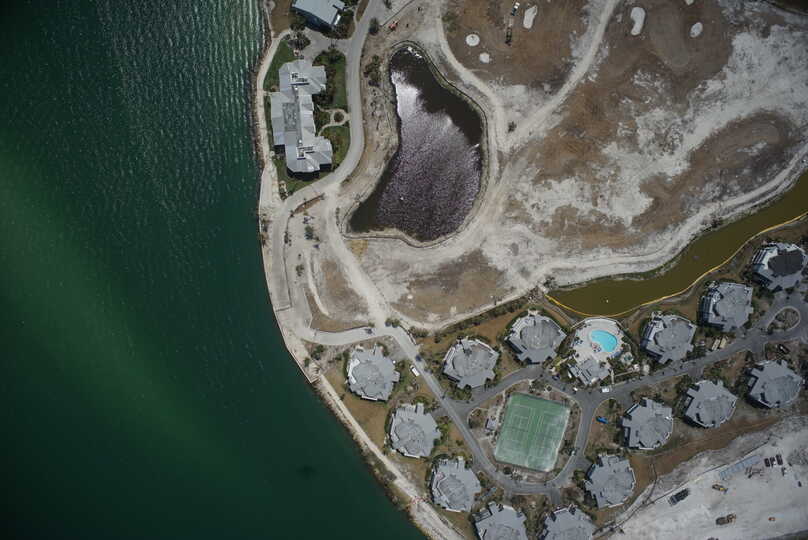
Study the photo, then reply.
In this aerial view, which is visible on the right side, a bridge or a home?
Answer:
home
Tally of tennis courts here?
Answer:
1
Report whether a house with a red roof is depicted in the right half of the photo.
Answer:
No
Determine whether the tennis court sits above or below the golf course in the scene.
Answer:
below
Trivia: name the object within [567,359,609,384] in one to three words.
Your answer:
building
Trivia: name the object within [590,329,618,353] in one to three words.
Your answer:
swimming pool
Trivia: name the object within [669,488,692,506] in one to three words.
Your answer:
vehicle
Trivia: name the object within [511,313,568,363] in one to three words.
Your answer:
house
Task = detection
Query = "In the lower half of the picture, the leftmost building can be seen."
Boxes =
[347,351,400,403]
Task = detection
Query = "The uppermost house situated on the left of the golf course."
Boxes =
[296,0,344,28]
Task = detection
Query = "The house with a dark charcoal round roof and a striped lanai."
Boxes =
[746,242,808,291]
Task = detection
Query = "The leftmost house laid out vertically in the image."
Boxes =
[271,58,333,173]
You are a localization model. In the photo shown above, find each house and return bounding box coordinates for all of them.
[443,339,499,389]
[588,453,638,507]
[347,351,400,403]
[746,242,808,291]
[296,0,344,28]
[511,313,568,363]
[471,508,531,540]
[271,58,333,173]
[635,316,698,366]
[430,460,483,514]
[745,355,806,407]
[546,504,599,540]
[622,396,676,448]
[388,408,441,461]
[680,375,742,426]
[696,281,757,334]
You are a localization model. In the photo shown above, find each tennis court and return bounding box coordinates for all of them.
[495,393,570,472]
